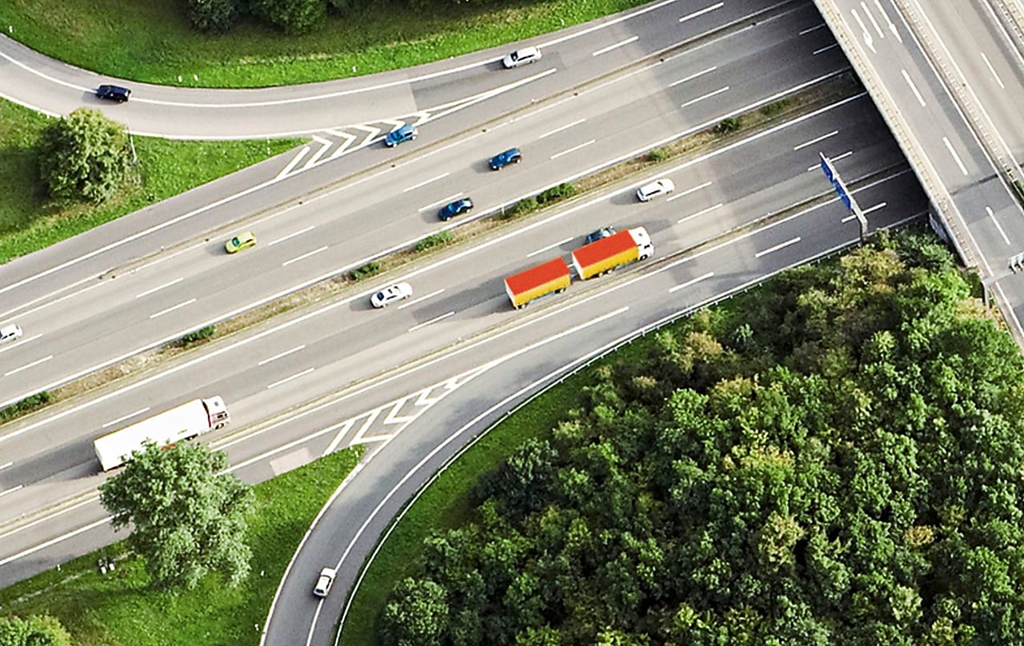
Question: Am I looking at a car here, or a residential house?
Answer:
car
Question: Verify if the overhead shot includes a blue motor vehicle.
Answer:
Yes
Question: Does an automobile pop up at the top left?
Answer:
Yes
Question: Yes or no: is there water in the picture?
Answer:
No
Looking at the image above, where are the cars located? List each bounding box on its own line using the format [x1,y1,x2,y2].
[311,568,337,600]
[488,147,522,171]
[385,123,418,147]
[583,224,620,245]
[637,179,675,202]
[96,84,132,104]
[438,197,475,222]
[370,283,411,309]
[224,230,258,254]
[503,45,541,68]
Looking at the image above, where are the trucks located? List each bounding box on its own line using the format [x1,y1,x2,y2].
[94,396,230,472]
[504,227,656,312]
